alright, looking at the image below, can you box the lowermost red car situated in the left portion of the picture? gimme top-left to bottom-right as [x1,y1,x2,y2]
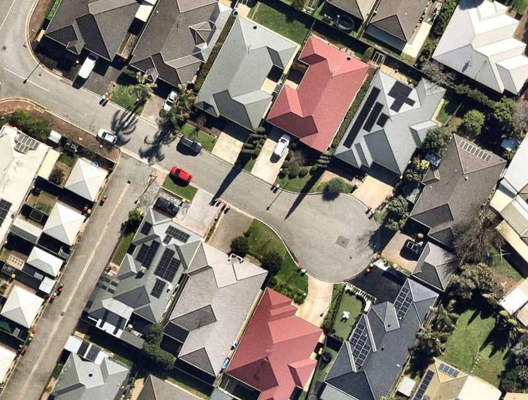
[170,169,191,182]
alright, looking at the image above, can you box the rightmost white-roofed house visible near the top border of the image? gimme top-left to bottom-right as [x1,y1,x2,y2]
[433,0,528,100]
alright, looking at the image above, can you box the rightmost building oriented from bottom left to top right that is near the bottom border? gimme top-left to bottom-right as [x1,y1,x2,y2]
[318,276,438,400]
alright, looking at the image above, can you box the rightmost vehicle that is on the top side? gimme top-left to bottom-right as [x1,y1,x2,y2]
[272,133,290,158]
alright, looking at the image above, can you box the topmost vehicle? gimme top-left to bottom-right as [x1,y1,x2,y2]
[77,55,94,80]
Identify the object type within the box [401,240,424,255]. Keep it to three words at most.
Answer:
car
